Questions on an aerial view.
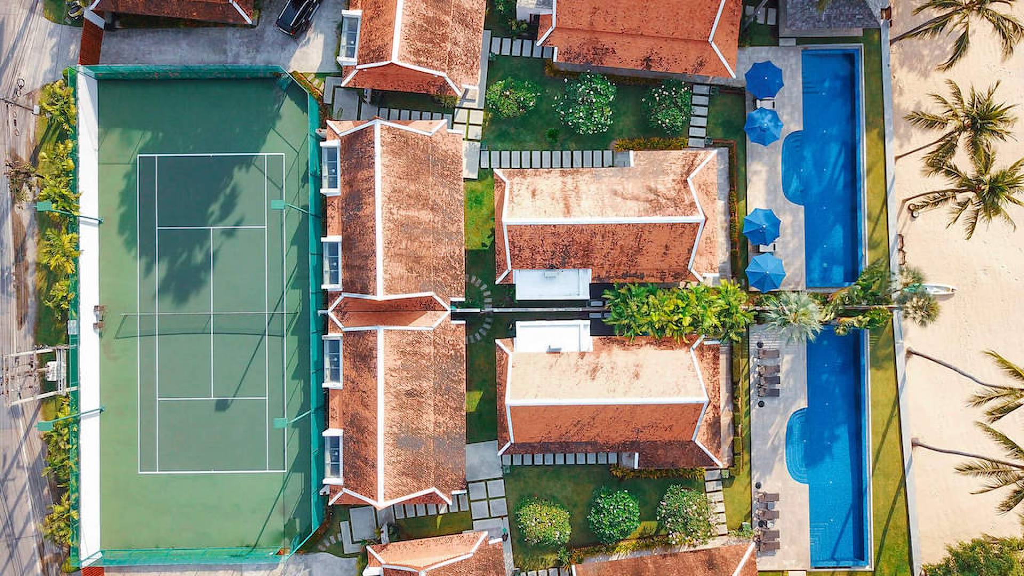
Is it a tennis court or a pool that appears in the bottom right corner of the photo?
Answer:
pool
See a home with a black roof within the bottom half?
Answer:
No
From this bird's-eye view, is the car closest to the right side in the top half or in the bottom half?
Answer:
top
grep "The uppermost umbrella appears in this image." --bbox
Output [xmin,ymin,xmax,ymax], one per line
[744,63,782,100]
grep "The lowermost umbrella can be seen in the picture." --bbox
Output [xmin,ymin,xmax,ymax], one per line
[743,252,784,293]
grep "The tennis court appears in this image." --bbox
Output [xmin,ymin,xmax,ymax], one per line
[100,79,324,551]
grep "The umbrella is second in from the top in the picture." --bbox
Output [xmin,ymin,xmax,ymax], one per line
[742,108,782,147]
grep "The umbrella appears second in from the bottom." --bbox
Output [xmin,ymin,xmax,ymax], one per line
[743,209,779,244]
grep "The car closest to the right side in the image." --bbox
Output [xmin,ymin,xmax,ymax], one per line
[277,0,325,41]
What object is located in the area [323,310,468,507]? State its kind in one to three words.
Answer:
house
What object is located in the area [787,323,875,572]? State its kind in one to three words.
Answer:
swimming pool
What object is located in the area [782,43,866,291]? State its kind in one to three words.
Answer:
swimming pool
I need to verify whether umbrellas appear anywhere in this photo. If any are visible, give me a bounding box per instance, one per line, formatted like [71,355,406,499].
[743,209,779,244]
[743,252,784,293]
[744,63,782,100]
[742,108,782,147]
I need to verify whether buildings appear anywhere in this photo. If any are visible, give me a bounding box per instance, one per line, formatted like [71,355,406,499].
[339,0,484,98]
[323,310,468,507]
[517,0,742,79]
[86,0,257,26]
[321,118,466,311]
[571,539,760,576]
[779,0,883,38]
[494,320,725,470]
[493,148,718,300]
[363,530,505,576]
